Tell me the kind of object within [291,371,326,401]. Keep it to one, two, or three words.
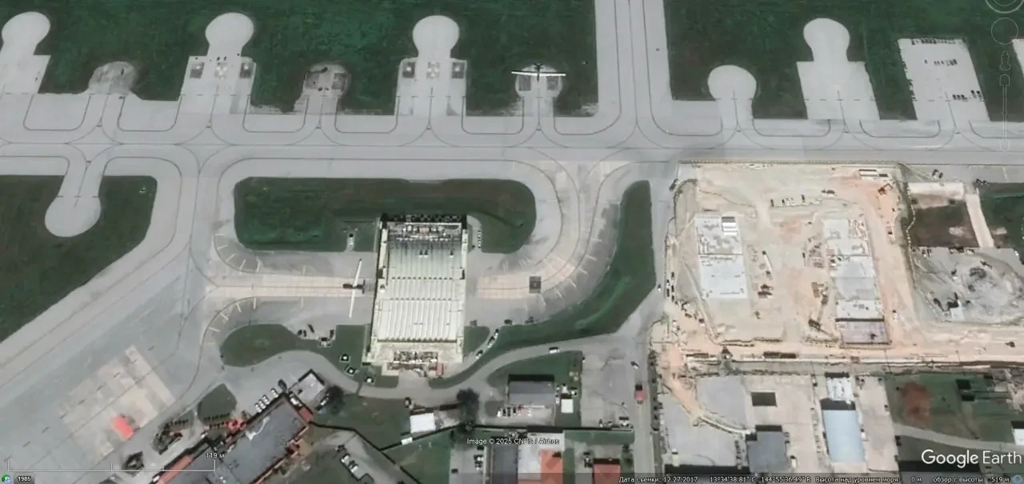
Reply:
building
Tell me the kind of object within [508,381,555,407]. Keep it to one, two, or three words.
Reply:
building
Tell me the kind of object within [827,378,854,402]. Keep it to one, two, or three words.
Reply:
shed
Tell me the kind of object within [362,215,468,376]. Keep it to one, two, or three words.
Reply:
hangar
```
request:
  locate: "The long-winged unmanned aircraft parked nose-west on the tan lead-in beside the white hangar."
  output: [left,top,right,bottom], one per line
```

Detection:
[343,260,365,314]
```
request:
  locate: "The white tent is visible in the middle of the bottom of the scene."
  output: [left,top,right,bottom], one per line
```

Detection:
[409,412,437,435]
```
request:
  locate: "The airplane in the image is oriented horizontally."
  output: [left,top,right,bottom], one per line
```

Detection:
[512,62,566,84]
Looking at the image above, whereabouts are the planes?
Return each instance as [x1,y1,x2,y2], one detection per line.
[343,260,365,314]
[512,62,566,84]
